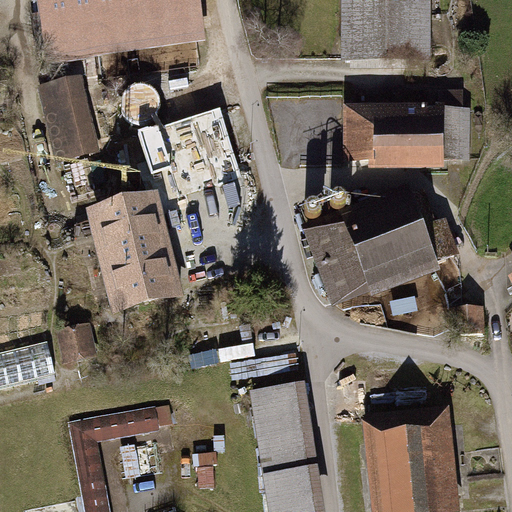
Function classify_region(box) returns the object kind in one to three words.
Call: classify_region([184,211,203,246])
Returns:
vehicle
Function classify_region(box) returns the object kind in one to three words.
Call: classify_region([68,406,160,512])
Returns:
building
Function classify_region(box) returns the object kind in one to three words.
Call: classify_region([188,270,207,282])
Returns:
vehicle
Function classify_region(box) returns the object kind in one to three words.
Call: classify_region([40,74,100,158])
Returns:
shed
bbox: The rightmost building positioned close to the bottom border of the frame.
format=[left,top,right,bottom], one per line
[361,405,460,512]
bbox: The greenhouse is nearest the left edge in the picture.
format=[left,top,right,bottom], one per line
[0,341,56,388]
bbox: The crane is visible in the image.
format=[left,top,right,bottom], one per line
[3,148,141,190]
